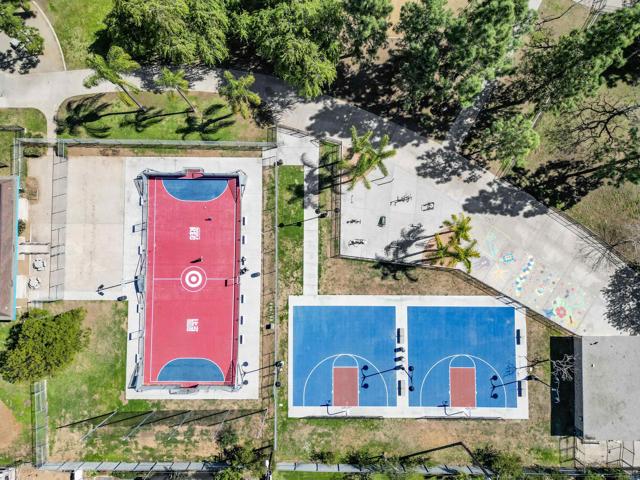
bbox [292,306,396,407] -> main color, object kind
blue basketball court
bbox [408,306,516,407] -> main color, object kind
blue basketball court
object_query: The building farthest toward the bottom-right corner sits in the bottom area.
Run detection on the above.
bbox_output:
[573,336,640,443]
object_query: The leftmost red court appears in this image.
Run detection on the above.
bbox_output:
[129,170,249,399]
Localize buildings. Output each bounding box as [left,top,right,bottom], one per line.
[573,336,640,443]
[0,174,19,321]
